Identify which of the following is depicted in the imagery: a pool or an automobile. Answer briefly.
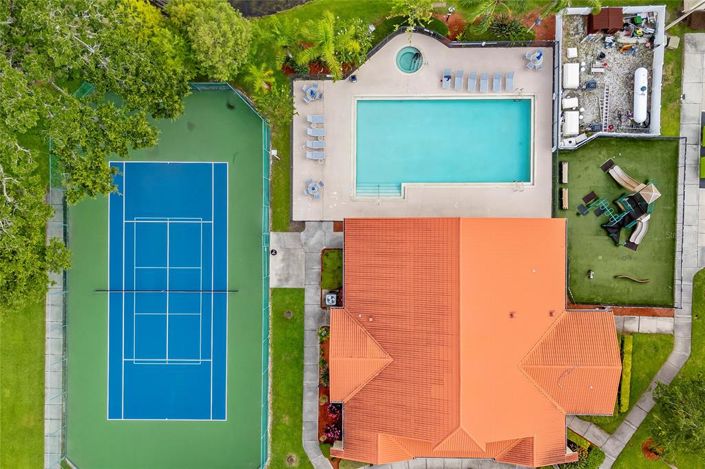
pool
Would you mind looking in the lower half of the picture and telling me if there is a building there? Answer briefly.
Yes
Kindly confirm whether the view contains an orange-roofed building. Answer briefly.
Yes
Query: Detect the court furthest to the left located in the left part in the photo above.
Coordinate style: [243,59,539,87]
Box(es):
[66,90,269,469]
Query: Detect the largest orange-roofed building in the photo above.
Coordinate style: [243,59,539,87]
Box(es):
[328,216,622,468]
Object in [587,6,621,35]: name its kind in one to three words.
shed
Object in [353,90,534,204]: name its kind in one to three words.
swimming pool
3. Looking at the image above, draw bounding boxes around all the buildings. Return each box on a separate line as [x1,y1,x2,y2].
[675,0,705,17]
[587,6,621,35]
[328,216,622,468]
